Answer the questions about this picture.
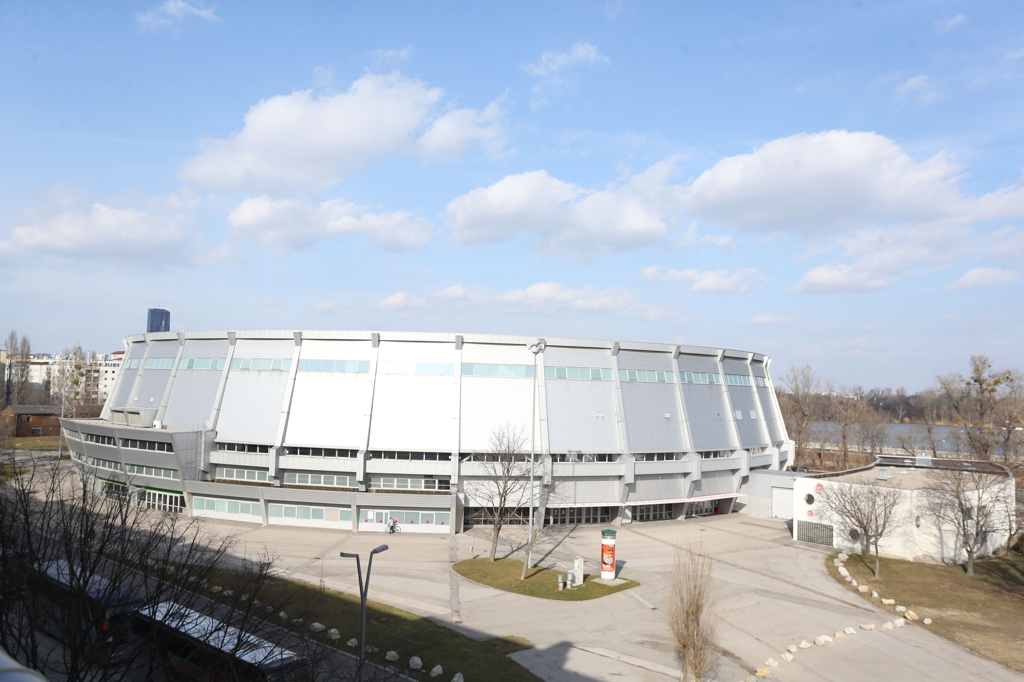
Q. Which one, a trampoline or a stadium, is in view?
stadium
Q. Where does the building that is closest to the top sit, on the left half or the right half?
left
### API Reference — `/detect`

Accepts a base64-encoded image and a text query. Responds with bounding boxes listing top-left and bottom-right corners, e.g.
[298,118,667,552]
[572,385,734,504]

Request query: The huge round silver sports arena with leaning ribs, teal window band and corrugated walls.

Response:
[98,330,796,528]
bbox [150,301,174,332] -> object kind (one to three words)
building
